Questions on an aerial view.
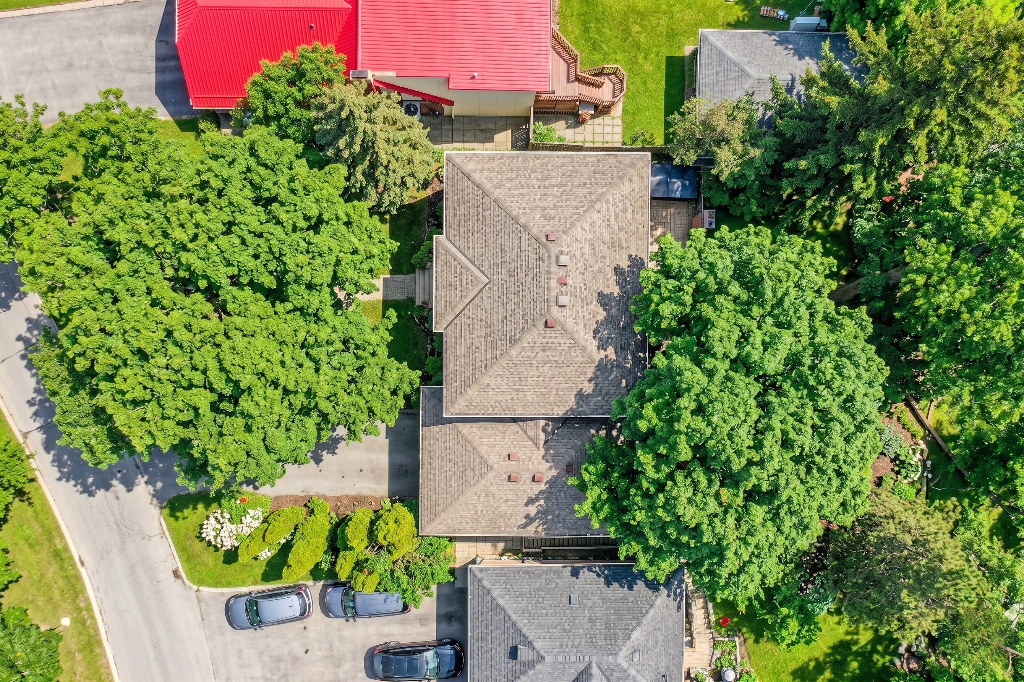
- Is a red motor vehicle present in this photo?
No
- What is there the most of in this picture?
trees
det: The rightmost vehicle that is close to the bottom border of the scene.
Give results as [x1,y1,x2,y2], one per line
[372,637,463,682]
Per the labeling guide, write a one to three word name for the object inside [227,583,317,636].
car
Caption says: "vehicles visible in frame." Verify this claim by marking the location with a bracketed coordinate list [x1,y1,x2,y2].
[323,579,415,627]
[372,637,463,682]
[227,583,317,636]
